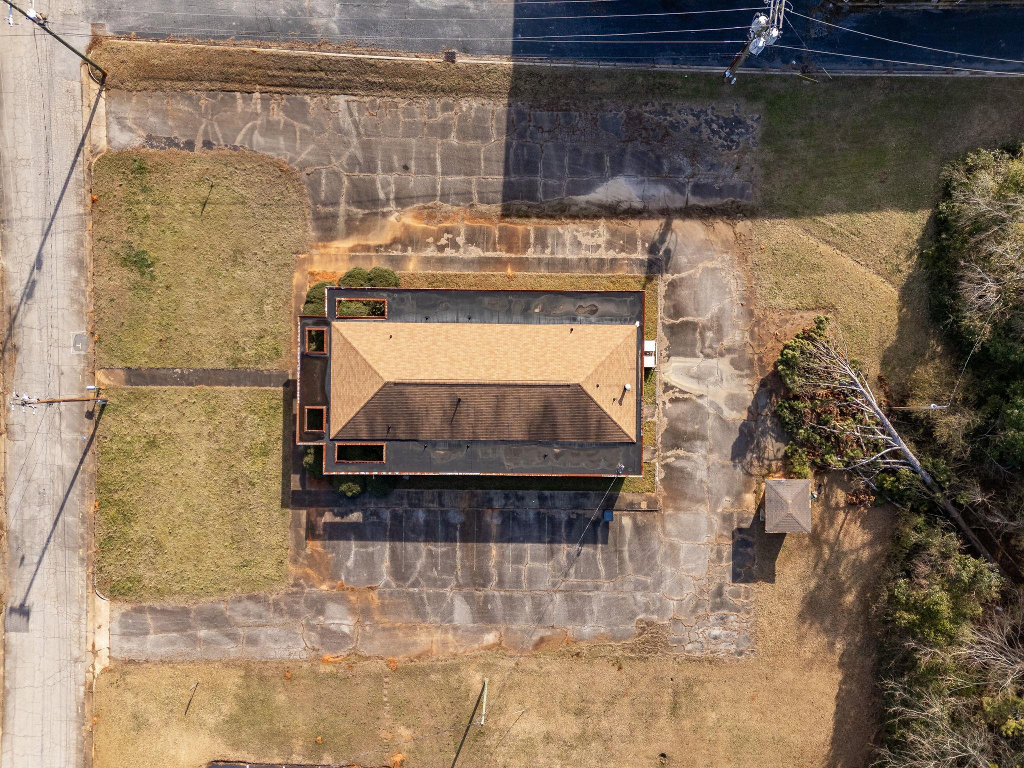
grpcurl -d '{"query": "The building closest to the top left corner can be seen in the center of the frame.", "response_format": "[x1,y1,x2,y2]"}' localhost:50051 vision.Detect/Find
[297,288,644,477]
